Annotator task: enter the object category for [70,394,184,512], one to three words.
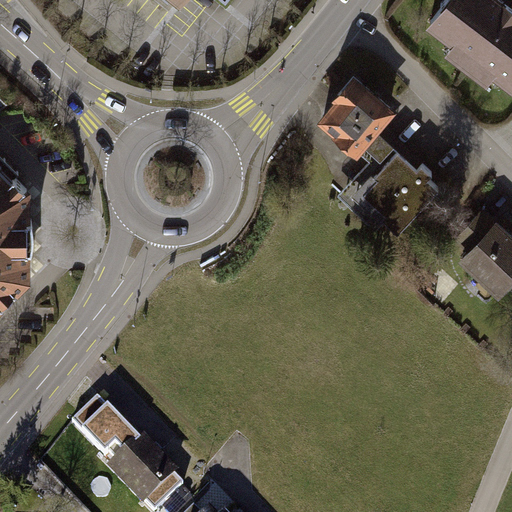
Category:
house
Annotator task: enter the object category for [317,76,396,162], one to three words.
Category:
house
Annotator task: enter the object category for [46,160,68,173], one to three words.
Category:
vehicle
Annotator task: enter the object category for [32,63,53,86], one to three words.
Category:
car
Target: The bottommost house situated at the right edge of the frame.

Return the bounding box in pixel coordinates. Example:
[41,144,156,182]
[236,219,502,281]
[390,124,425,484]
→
[460,231,512,304]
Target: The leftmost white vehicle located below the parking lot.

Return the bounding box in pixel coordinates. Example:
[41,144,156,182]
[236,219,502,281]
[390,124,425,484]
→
[105,97,126,114]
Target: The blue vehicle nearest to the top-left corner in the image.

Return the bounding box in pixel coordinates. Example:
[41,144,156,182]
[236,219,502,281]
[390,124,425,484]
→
[66,98,86,118]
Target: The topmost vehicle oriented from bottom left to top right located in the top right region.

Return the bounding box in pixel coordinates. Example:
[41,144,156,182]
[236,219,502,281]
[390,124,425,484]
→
[400,118,422,143]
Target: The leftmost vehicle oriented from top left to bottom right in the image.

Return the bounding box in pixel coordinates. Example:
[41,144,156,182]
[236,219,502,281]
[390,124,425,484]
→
[10,24,30,44]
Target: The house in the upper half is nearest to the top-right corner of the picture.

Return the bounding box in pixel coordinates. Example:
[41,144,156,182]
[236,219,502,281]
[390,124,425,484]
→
[428,0,512,96]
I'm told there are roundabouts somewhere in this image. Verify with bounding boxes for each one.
[106,110,243,246]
